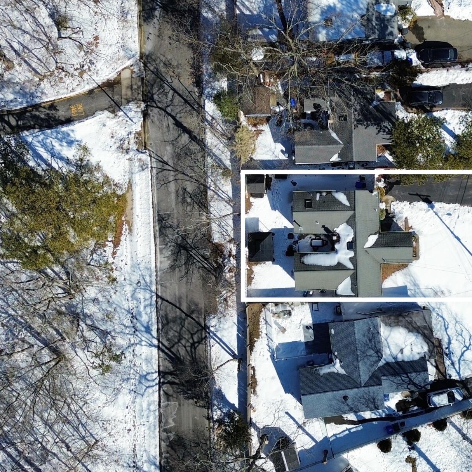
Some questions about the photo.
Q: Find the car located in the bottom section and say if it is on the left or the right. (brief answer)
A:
right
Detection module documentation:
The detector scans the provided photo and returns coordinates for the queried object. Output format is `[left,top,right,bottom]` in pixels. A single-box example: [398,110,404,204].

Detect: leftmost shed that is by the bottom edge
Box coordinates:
[272,440,300,472]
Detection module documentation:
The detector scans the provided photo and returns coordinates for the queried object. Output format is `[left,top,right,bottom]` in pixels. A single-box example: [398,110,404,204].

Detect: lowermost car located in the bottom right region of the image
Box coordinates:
[424,387,465,407]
